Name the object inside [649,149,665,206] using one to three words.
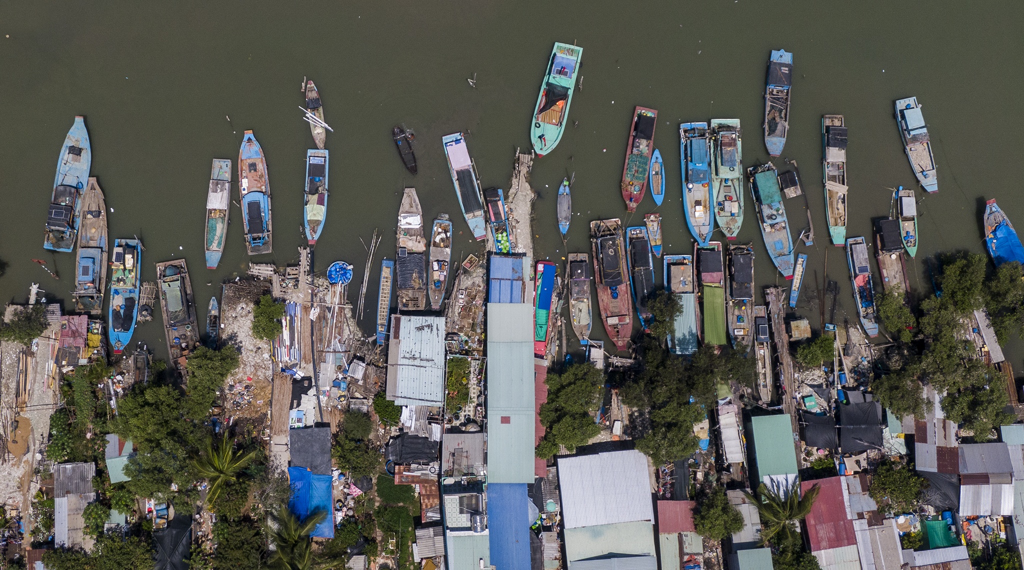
boat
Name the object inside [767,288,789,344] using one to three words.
pier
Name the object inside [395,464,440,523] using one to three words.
shed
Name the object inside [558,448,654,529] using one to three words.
building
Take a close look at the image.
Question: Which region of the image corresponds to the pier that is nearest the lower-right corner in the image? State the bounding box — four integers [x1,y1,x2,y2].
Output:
[999,359,1019,404]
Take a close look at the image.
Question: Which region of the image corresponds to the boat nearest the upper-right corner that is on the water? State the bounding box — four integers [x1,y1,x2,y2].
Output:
[892,97,938,195]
